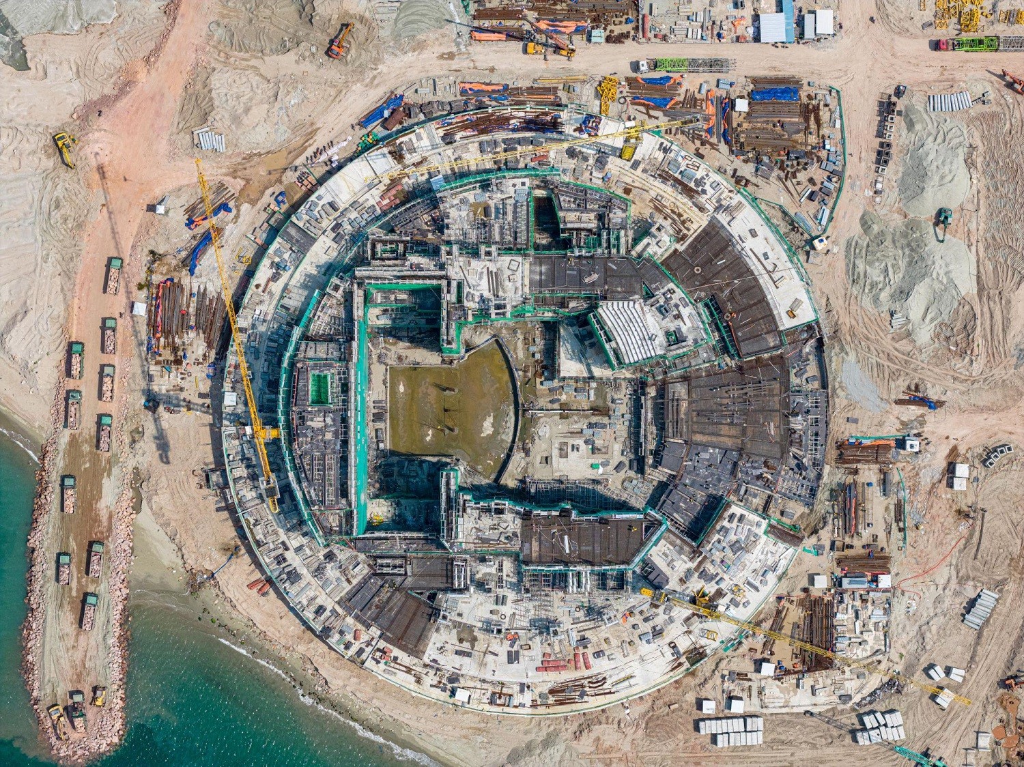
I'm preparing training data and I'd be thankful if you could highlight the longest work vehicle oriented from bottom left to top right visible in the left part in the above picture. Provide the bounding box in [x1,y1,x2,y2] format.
[324,22,354,61]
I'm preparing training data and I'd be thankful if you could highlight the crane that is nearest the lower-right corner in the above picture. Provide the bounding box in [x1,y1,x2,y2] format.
[893,745,951,767]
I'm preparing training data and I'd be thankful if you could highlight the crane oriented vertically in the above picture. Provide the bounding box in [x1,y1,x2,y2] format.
[194,159,282,514]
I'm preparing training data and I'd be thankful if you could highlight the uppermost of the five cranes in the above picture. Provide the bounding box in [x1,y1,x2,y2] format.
[516,13,577,64]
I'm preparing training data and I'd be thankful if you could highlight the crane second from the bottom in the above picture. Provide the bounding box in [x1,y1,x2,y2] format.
[638,579,971,705]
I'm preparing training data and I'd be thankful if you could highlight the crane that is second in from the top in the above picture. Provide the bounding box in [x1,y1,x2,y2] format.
[364,112,712,181]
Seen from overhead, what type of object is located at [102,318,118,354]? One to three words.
vehicle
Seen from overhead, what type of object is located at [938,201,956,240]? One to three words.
work vehicle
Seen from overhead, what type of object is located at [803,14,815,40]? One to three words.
building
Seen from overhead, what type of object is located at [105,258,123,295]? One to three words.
vehicle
